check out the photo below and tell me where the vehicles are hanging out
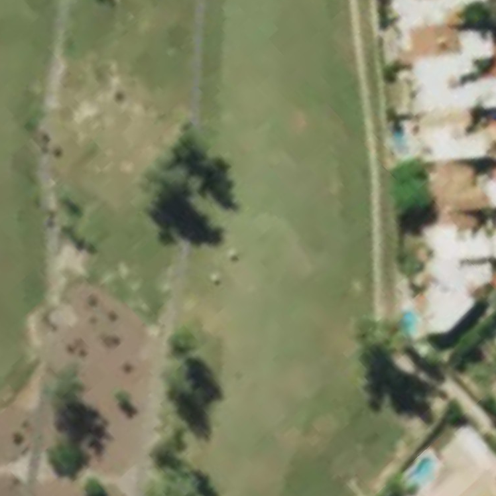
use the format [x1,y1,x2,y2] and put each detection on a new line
[227,249,235,257]
[209,273,218,282]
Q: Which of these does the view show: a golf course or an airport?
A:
golf course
